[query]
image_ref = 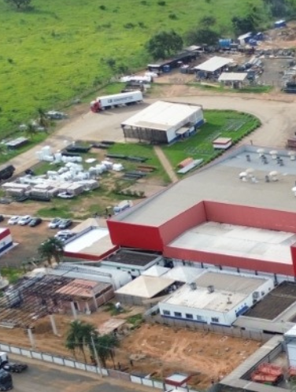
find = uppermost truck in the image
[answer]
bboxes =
[91,92,144,113]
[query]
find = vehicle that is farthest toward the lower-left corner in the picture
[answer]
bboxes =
[0,368,15,388]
